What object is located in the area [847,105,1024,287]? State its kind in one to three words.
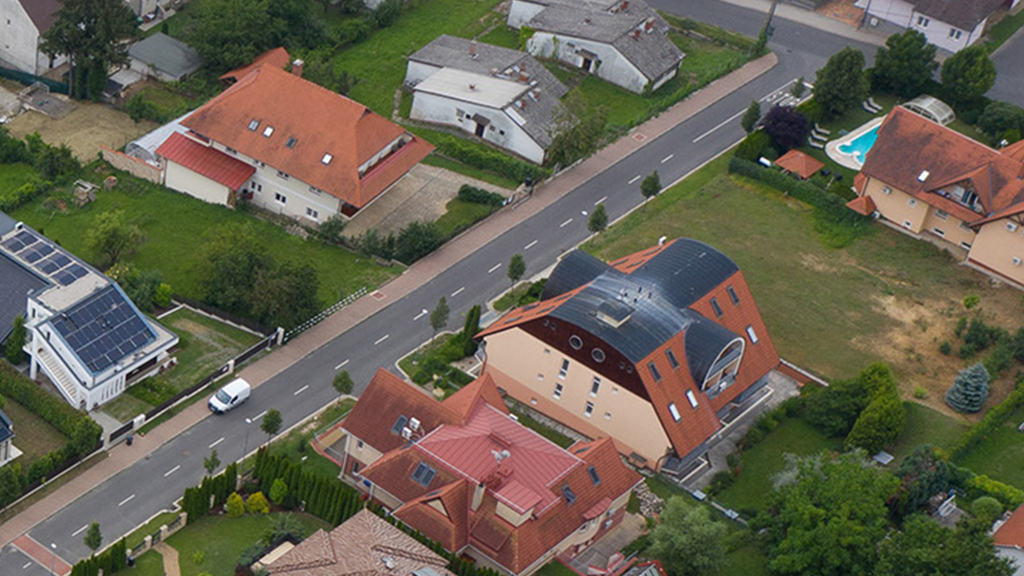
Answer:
house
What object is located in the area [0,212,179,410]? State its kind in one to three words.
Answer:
house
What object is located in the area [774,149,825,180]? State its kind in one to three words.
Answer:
gazebo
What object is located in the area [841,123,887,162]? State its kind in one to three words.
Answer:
swimming pool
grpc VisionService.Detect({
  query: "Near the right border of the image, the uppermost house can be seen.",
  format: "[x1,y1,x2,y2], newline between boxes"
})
[908,0,1005,55]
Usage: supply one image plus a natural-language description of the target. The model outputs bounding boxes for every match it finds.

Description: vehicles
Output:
[211,375,254,412]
